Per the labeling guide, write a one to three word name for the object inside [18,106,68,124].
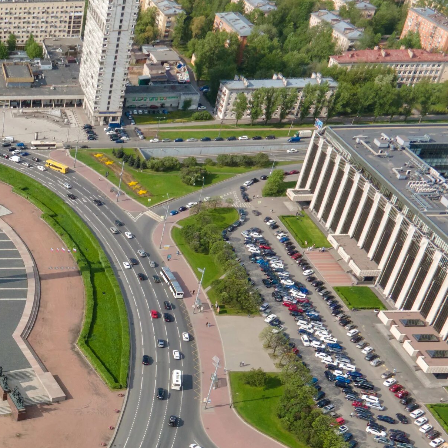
fountain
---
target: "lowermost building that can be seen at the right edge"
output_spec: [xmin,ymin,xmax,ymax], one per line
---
[296,124,448,353]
